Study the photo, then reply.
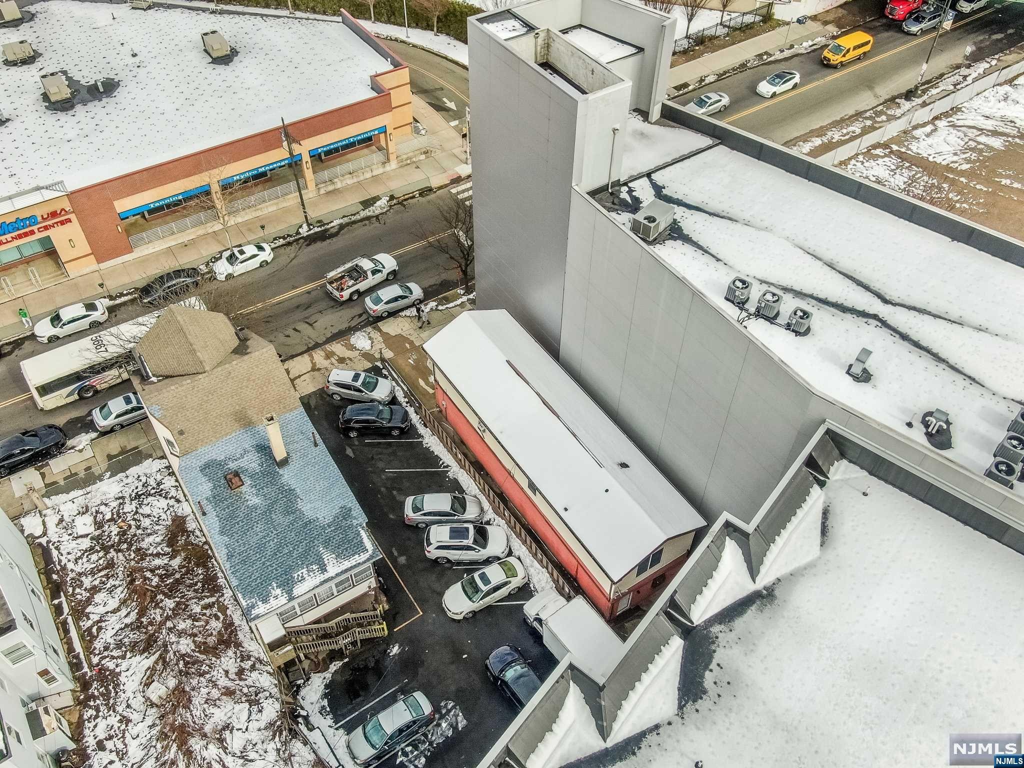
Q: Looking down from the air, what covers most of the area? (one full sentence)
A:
For the most part, this view shows buildings.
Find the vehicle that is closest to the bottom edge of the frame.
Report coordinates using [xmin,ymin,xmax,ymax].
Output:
[339,688,437,768]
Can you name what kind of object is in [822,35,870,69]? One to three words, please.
van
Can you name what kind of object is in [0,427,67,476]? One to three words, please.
car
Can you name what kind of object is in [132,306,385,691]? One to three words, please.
house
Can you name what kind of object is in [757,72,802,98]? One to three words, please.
car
